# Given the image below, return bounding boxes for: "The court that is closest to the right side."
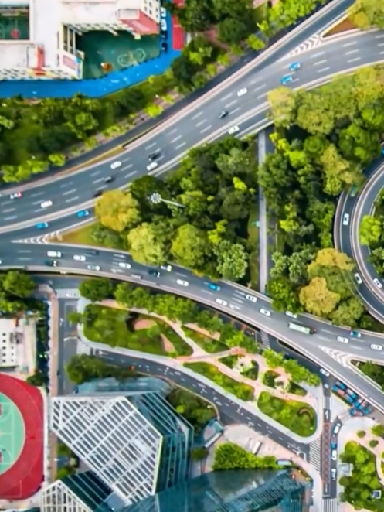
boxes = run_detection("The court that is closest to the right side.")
[81,28,159,79]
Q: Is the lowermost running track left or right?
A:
left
